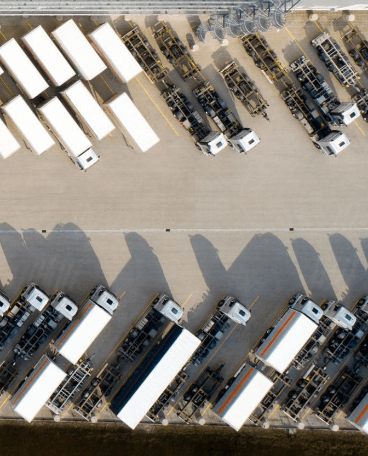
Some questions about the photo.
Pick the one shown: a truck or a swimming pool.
truck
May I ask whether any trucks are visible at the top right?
Yes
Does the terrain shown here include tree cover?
No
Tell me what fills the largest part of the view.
paved ground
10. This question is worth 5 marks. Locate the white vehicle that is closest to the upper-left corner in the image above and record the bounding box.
[72,146,102,173]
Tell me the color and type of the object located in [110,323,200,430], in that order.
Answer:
white trailer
